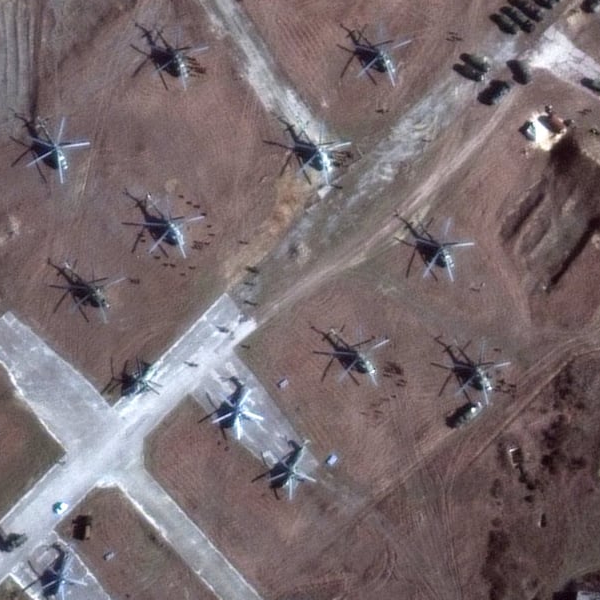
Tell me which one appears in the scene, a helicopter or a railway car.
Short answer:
helicopter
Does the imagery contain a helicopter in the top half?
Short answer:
Yes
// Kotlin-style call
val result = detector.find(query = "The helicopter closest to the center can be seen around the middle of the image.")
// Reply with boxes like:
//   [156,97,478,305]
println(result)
[326,323,392,386]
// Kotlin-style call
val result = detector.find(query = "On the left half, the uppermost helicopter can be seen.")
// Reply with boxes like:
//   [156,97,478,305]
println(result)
[145,17,210,87]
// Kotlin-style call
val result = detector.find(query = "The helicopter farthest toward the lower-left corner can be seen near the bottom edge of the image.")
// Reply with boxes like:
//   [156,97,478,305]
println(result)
[36,541,90,600]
